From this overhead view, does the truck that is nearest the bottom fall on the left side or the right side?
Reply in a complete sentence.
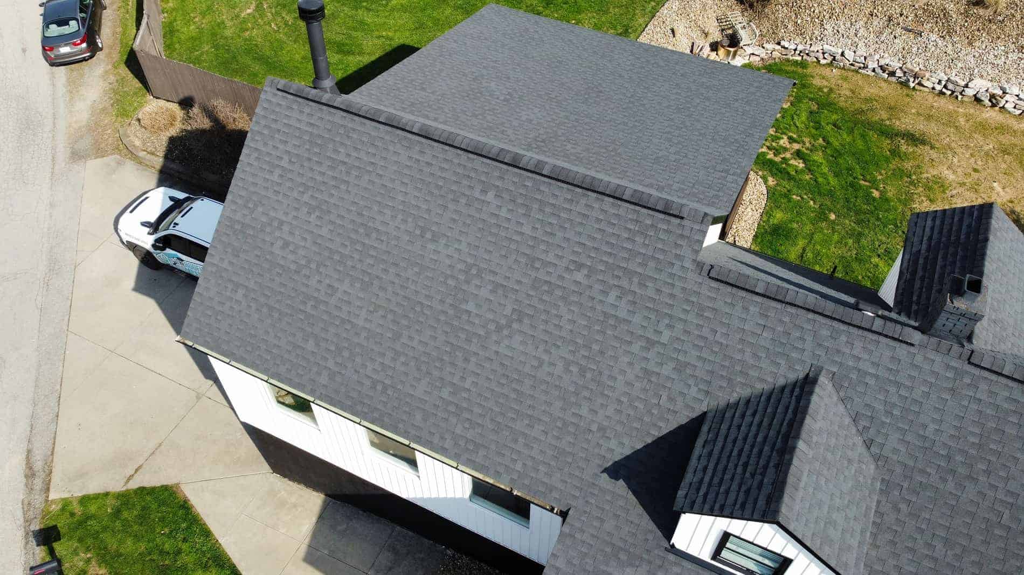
It is on the left.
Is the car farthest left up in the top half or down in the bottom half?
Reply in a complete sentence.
The car farthest left is in the top half of the image.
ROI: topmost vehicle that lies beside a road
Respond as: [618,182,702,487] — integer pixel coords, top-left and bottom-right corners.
[43,0,107,64]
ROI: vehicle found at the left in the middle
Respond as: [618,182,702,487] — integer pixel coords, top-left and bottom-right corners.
[115,188,226,275]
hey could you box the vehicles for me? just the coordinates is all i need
[43,0,107,64]
[115,188,226,275]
